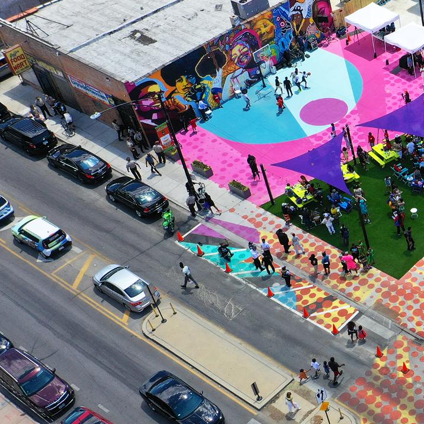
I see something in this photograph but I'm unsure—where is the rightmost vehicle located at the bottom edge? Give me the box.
[138,375,228,424]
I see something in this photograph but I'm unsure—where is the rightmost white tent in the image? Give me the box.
[383,22,424,74]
